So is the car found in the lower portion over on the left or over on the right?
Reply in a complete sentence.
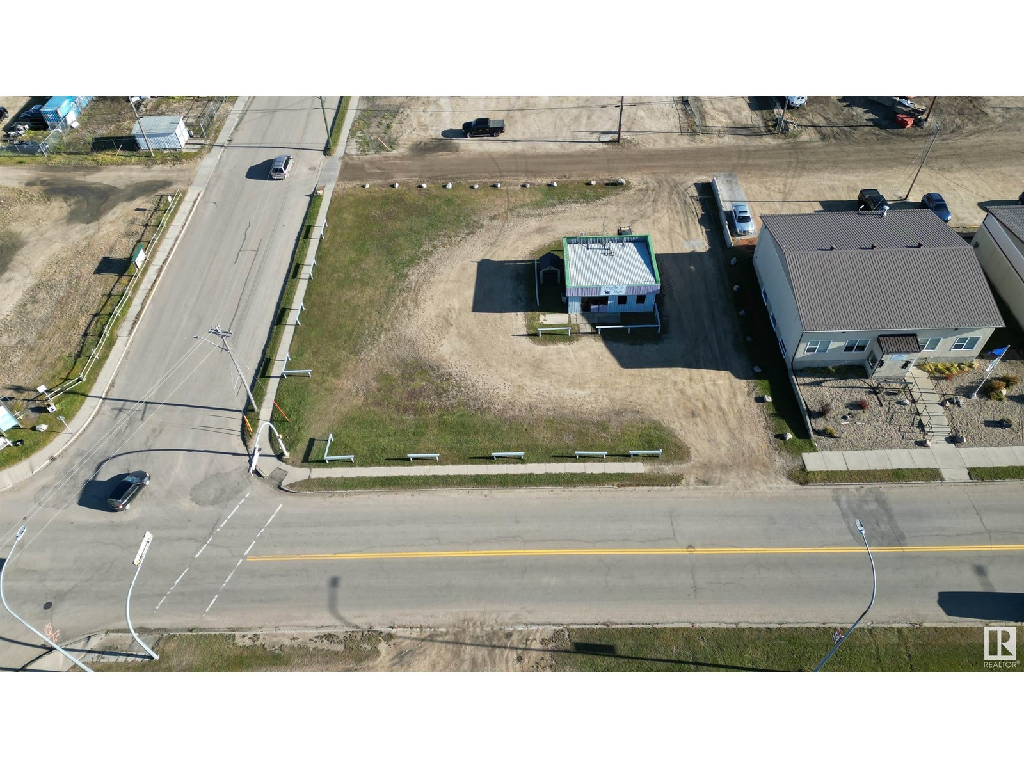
You can find the car found in the lower portion on the left side of the picture.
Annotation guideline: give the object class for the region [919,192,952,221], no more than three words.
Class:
car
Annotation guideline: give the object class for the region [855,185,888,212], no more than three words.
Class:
truck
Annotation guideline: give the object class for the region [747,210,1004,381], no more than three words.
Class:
building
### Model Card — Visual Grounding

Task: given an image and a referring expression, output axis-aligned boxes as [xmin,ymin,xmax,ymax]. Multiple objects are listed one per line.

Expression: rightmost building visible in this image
[971,205,1024,321]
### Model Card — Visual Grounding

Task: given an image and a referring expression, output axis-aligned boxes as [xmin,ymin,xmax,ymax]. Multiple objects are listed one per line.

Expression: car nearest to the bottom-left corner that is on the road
[104,471,153,517]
